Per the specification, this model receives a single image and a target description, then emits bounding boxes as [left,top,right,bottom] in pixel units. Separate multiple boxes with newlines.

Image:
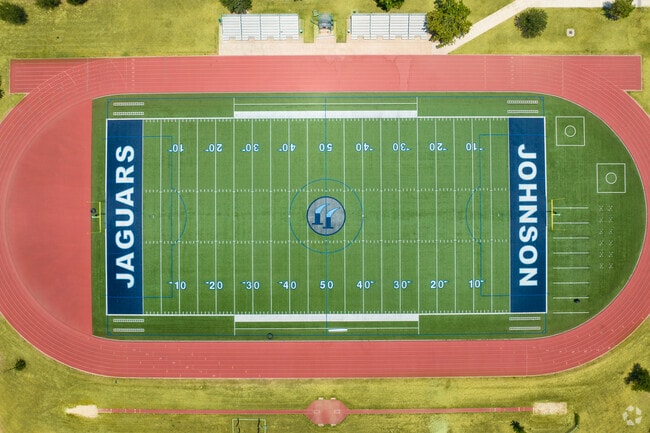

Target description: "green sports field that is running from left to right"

[93,92,646,340]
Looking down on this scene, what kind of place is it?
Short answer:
sports ground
